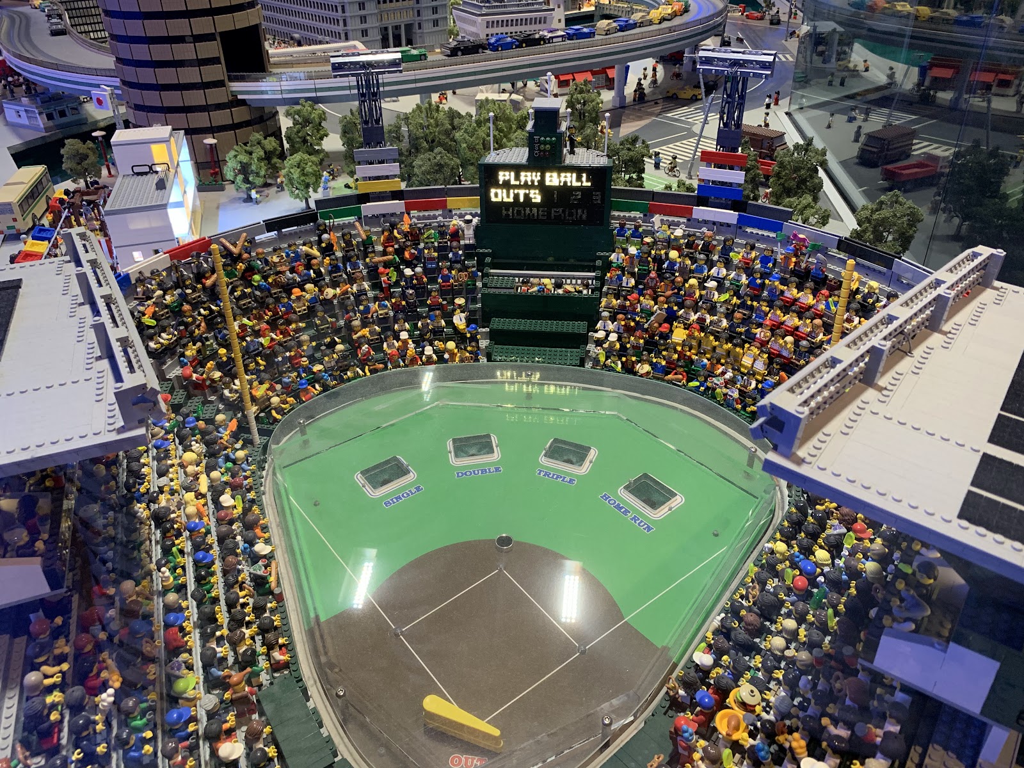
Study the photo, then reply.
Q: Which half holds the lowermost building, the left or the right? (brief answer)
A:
left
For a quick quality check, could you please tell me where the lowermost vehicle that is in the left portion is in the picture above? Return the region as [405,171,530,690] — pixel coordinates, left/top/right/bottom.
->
[0,164,49,228]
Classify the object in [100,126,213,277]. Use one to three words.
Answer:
building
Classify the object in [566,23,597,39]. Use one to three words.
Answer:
car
